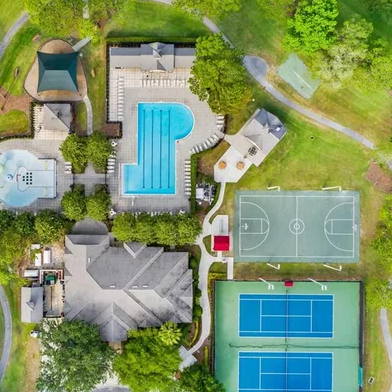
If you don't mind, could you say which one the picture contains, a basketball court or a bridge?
basketball court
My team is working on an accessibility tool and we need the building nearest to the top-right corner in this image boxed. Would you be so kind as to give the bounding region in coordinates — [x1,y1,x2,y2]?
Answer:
[242,108,287,153]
